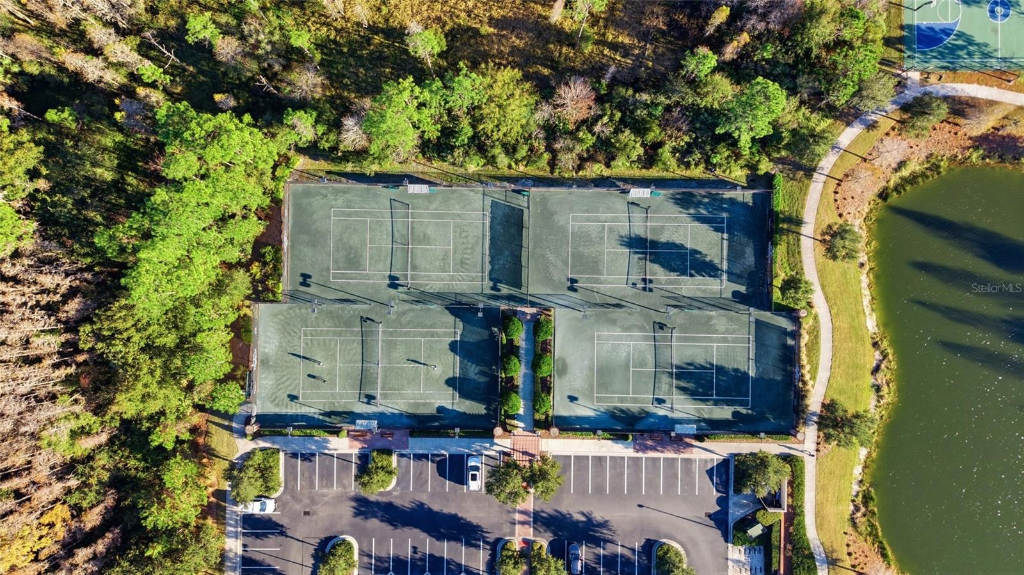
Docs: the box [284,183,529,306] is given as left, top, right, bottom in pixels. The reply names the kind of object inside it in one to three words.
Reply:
tennis court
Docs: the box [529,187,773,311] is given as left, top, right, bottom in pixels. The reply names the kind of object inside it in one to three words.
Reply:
tennis court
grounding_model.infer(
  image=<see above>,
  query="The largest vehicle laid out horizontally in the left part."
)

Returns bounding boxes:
[241,500,274,516]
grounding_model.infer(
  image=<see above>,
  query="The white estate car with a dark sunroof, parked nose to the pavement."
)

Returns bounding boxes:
[466,457,482,491]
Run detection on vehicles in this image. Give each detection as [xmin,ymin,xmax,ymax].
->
[466,457,482,491]
[241,500,274,516]
[568,544,584,575]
